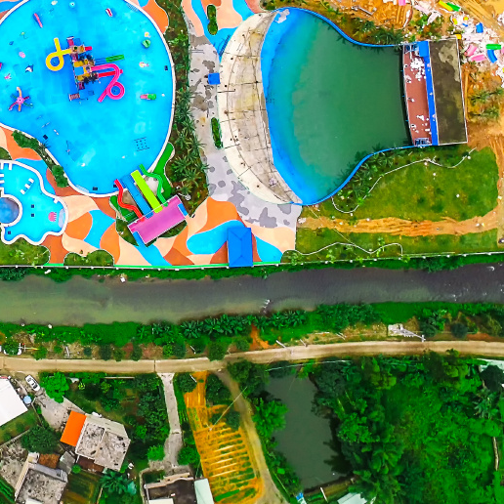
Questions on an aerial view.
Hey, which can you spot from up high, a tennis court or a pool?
pool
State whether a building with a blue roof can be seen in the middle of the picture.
Yes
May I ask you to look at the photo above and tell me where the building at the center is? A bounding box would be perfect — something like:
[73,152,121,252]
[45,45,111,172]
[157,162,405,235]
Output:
[226,227,253,267]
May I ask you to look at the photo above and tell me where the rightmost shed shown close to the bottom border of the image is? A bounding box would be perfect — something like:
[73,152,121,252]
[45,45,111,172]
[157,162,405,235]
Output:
[333,486,369,504]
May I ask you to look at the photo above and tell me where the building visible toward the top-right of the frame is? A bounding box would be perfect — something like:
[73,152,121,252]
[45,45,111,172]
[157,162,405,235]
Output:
[403,38,468,145]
